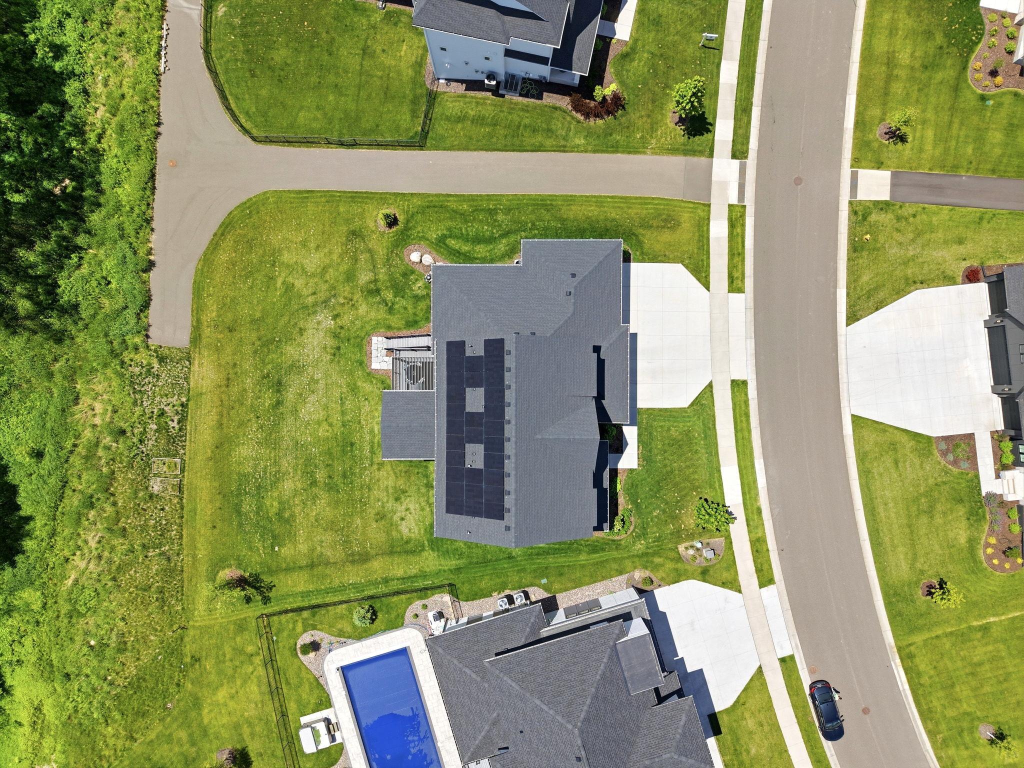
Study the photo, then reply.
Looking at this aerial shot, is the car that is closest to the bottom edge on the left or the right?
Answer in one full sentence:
The car that is closest to the bottom edge sits on the right side.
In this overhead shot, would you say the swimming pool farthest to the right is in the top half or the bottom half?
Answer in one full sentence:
The swimming pool farthest to the right sits in the bottom half of the picture.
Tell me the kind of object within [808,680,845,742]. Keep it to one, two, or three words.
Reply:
car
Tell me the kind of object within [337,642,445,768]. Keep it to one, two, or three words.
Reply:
swimming pool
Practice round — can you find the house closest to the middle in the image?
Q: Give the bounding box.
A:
[380,238,630,547]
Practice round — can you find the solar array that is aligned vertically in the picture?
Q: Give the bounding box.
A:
[445,339,504,520]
